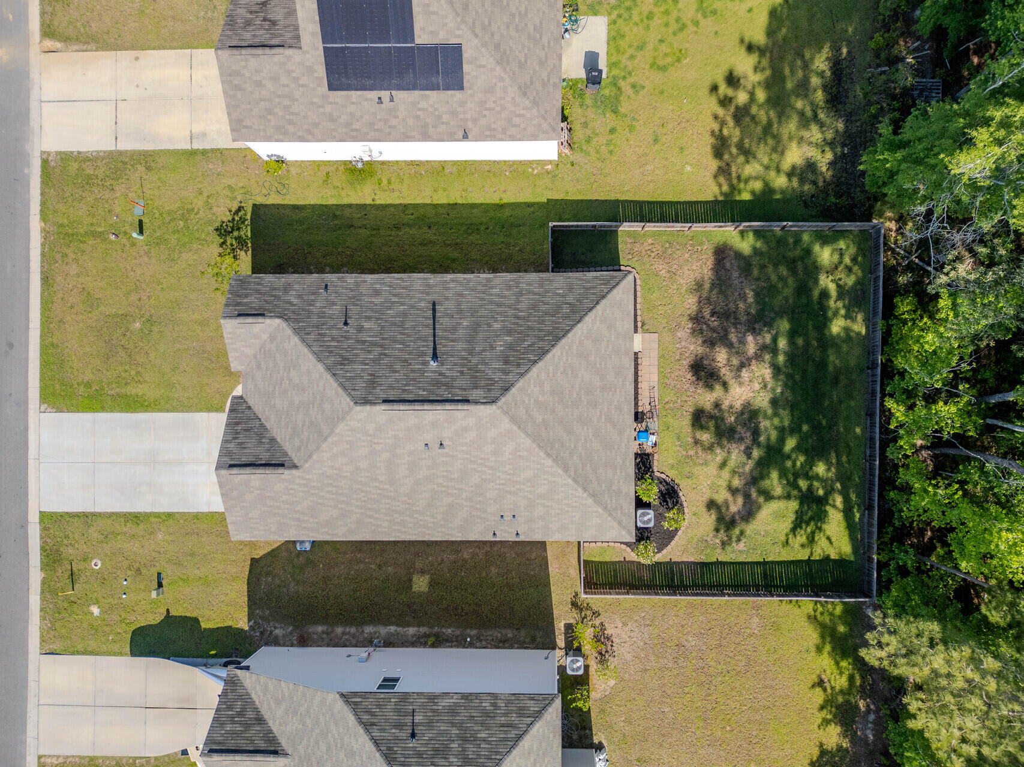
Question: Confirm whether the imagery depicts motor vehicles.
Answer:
No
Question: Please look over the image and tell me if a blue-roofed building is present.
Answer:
No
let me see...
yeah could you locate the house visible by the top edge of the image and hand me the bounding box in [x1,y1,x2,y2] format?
[215,0,564,160]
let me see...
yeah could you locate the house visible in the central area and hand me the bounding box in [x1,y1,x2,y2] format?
[215,272,637,543]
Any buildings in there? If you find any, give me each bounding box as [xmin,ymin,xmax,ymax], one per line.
[215,272,637,543]
[215,0,564,160]
[200,649,563,767]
